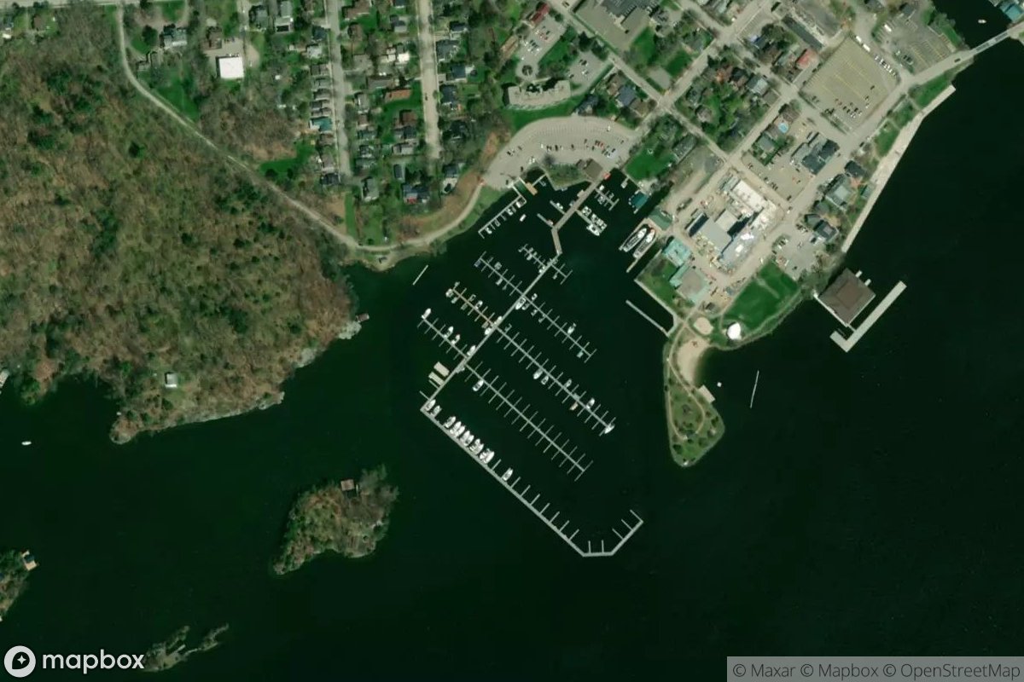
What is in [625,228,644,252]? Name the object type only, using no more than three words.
boat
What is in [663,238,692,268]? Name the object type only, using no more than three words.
building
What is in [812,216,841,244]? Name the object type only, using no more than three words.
house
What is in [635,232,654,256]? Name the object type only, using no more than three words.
boat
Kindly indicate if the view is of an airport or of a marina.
marina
